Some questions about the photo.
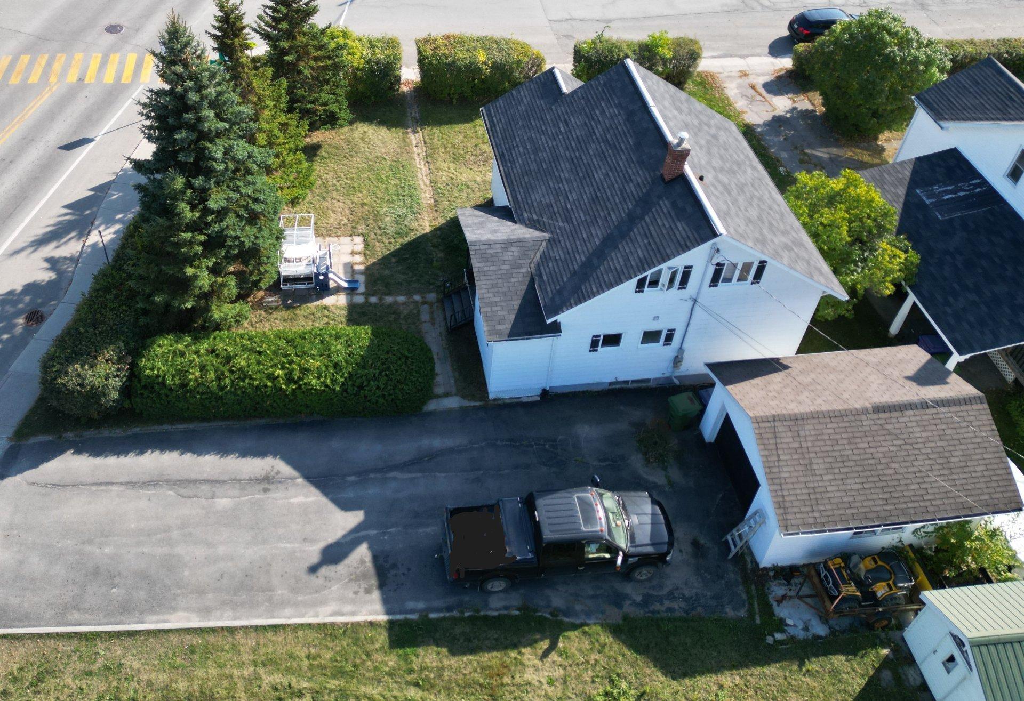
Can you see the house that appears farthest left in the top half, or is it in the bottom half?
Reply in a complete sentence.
The house that appears farthest left sits in the top half of the picture.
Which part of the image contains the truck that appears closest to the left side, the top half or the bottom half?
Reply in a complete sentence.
Seen from above, the truck that appears closest to the left side lies in the bottom half of the view.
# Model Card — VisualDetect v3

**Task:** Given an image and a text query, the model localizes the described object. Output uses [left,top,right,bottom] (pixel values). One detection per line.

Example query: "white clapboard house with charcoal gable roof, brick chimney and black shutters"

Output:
[438,59,850,400]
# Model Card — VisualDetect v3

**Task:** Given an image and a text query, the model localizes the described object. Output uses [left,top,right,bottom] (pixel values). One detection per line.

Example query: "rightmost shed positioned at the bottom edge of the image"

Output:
[904,576,1024,701]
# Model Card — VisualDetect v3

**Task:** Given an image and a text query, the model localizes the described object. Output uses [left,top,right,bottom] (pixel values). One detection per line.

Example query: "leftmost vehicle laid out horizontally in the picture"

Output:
[433,481,676,594]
